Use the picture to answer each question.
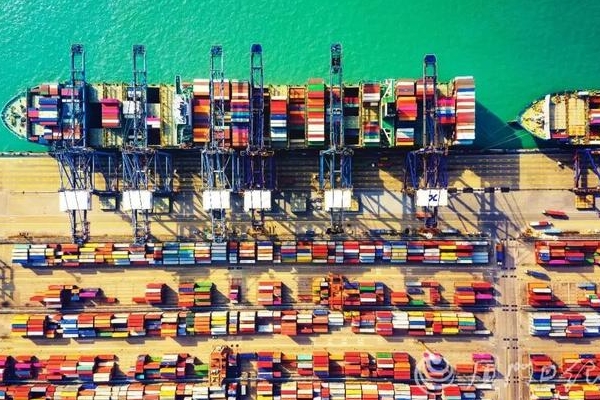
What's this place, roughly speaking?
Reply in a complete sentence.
It's a port.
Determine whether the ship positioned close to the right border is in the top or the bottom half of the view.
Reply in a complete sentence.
The ship positioned close to the right border is in the top half of the image.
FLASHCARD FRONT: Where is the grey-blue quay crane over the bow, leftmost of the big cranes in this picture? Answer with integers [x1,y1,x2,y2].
[46,45,125,245]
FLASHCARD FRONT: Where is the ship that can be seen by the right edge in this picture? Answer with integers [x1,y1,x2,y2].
[516,86,600,146]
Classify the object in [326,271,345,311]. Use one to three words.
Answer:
crane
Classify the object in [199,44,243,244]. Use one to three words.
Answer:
container crane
